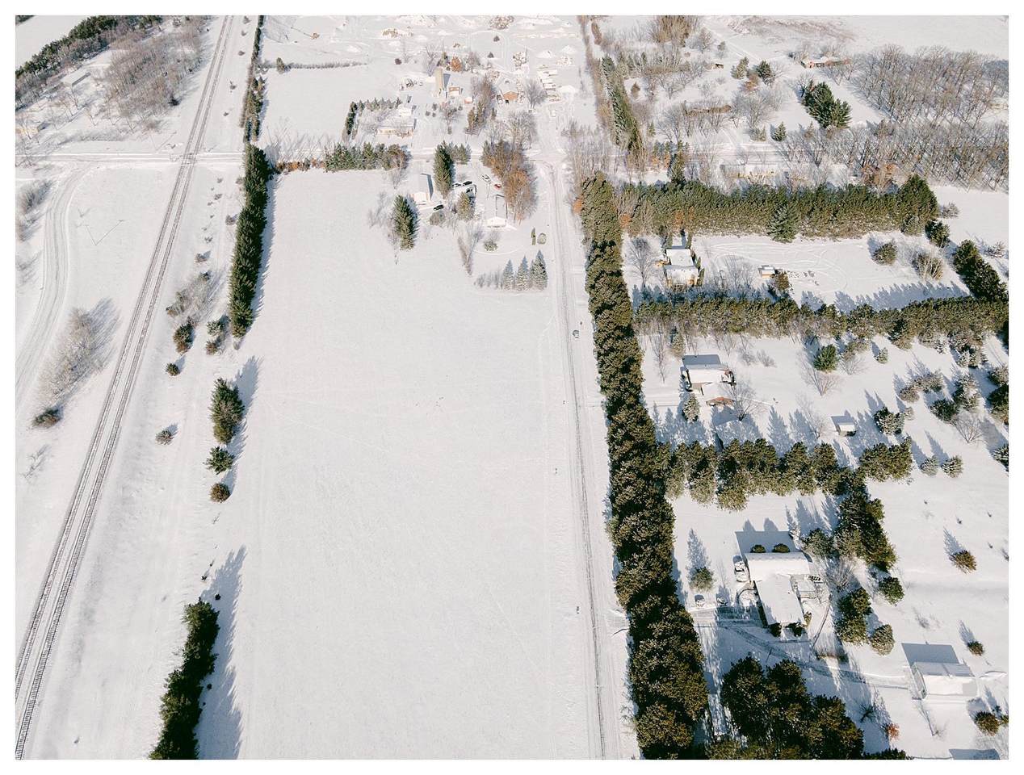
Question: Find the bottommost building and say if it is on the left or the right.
right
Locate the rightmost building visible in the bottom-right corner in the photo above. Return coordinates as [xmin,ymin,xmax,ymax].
[913,664,979,700]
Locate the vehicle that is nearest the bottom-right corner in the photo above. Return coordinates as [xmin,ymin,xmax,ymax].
[732,558,746,581]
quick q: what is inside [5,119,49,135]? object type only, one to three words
house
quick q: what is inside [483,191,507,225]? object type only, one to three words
house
